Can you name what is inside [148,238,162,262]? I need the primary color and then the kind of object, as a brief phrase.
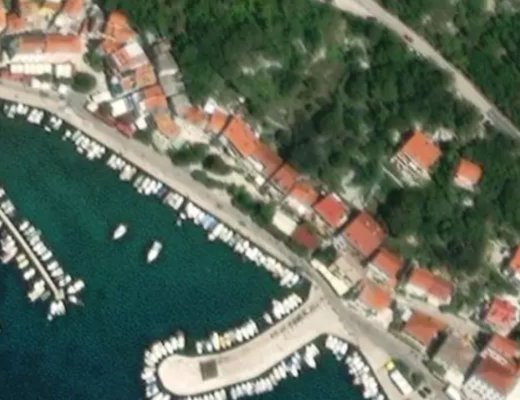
white boat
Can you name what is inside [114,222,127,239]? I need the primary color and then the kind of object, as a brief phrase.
white boat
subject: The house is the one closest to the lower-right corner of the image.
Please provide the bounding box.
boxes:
[479,357,520,399]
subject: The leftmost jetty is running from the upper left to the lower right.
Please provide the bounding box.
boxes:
[0,207,64,300]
